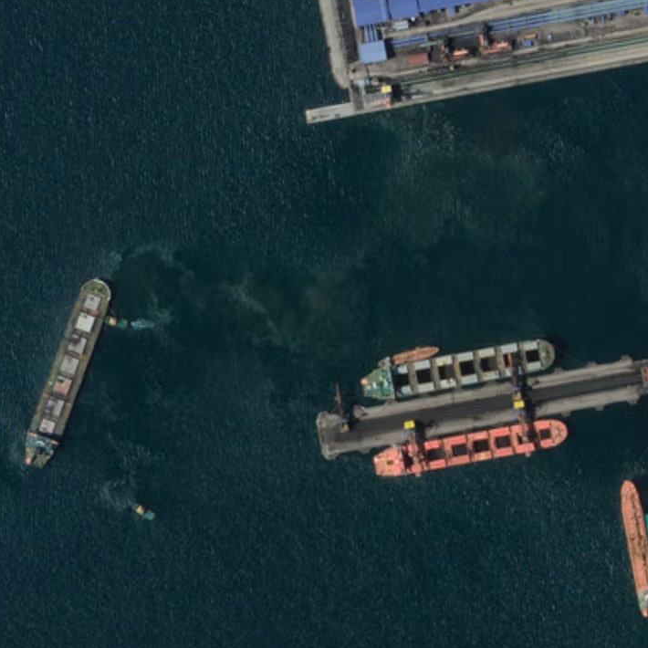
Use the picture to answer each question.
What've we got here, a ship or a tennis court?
ship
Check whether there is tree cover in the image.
No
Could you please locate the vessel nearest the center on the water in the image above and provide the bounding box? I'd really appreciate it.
[381,348,441,366]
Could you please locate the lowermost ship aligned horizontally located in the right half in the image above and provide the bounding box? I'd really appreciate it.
[373,421,568,478]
